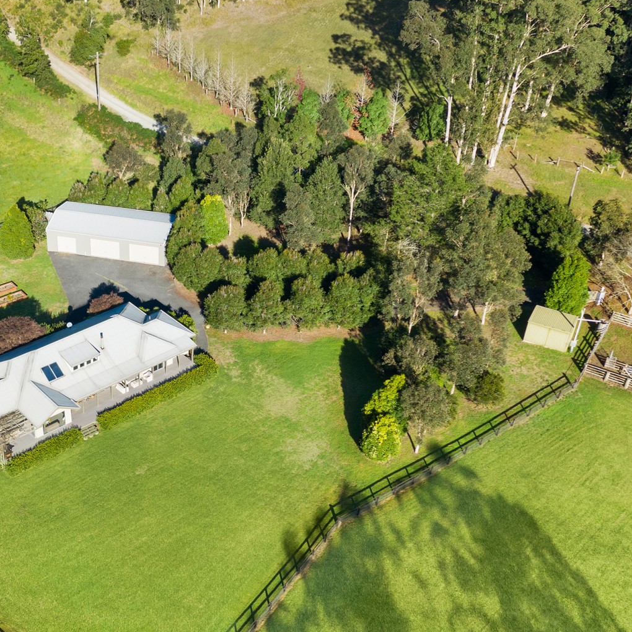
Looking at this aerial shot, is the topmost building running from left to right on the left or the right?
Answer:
left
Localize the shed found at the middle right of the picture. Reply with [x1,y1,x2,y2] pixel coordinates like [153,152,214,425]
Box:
[523,307,575,353]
